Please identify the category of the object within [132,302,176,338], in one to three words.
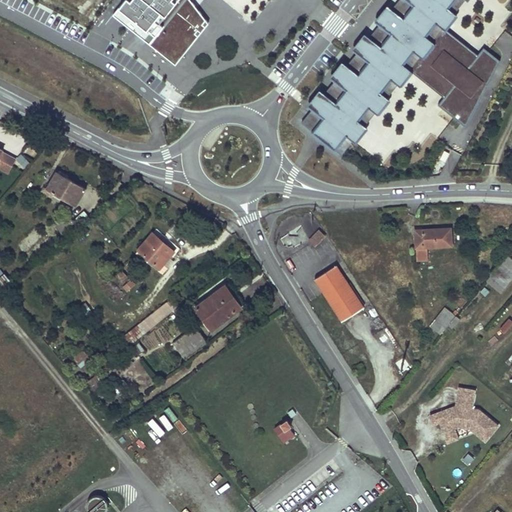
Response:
shed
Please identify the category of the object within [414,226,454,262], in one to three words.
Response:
house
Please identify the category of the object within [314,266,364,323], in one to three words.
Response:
building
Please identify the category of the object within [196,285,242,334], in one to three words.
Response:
house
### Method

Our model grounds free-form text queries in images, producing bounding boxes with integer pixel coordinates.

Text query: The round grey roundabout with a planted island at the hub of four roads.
[182,107,280,204]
